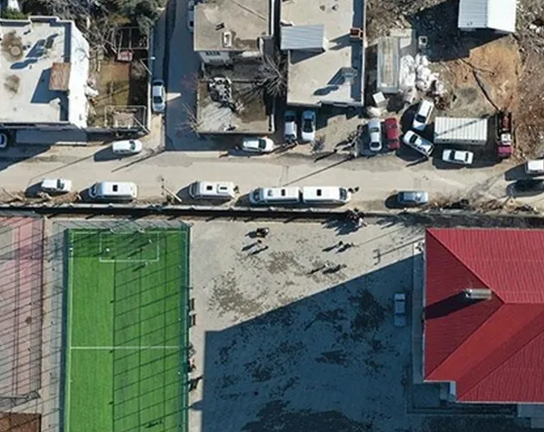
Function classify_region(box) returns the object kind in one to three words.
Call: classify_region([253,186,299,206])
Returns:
vehicle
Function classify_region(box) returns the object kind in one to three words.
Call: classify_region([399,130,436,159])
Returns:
car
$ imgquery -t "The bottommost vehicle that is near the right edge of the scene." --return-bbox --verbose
[511,176,544,194]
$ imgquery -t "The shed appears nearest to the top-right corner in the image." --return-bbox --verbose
[457,0,515,40]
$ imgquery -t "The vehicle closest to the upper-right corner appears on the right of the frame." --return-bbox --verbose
[497,114,515,159]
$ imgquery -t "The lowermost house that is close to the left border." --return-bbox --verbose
[0,17,94,135]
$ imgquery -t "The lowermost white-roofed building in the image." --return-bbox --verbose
[433,117,488,146]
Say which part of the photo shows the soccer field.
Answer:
bottom left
